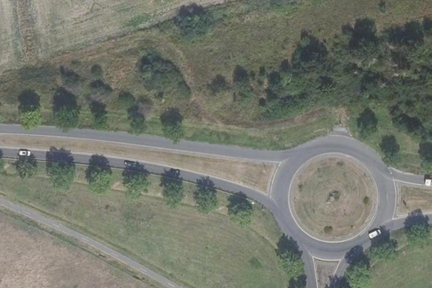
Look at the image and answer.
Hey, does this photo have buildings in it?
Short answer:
No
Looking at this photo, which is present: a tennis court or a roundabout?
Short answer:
roundabout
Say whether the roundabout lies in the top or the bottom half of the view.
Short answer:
bottom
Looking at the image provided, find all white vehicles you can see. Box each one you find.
[424,177,432,185]
[18,150,30,156]
[368,228,382,238]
